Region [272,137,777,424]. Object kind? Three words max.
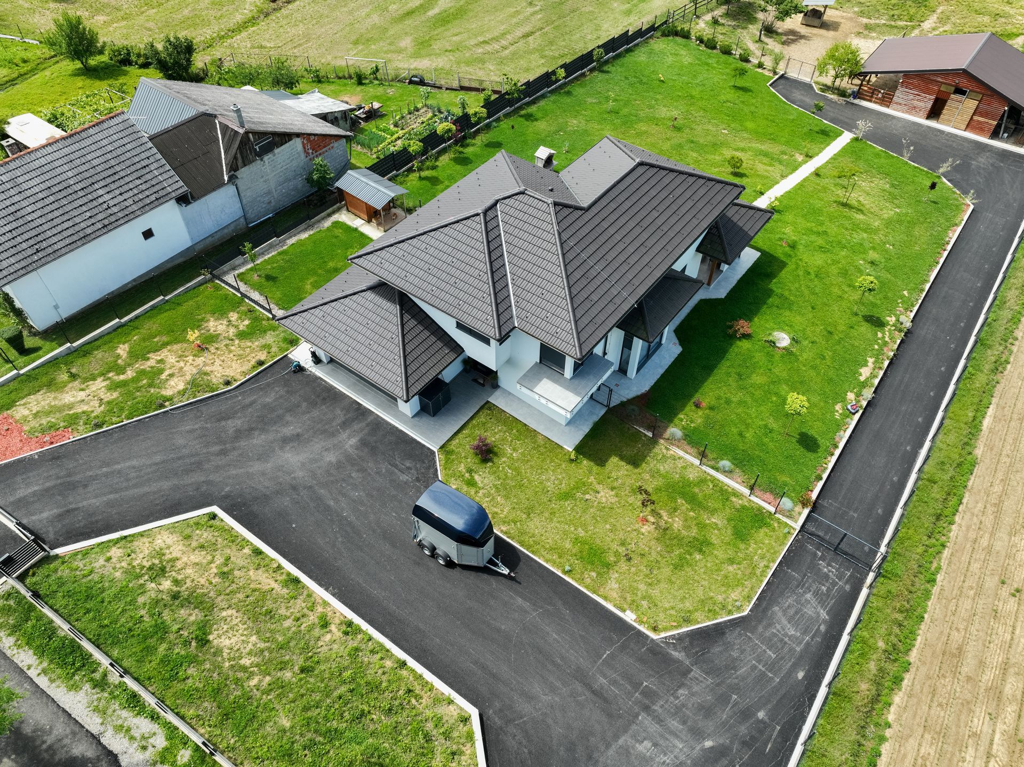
house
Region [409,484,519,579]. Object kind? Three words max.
trailer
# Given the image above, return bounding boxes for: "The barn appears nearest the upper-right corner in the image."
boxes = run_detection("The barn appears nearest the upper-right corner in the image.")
[855,33,1024,147]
